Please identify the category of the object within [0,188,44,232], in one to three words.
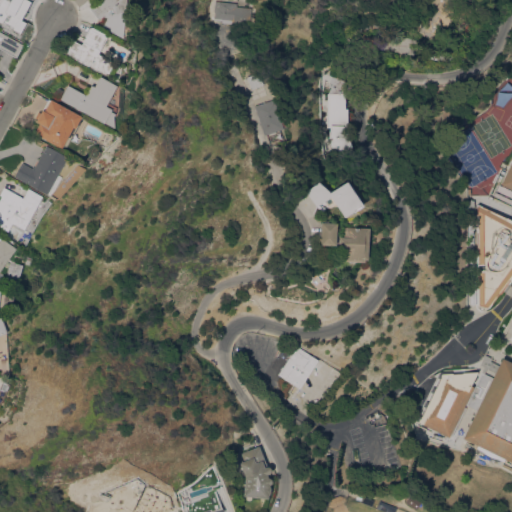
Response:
house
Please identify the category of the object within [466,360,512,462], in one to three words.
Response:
building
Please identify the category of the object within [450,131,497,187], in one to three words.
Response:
basketball court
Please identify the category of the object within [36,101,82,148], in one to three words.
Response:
house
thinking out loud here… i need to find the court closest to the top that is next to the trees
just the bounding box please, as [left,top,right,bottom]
[474,114,511,158]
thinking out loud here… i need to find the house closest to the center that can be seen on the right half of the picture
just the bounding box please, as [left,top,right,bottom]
[322,224,338,246]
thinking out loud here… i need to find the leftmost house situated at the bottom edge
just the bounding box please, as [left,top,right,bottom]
[241,446,273,498]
